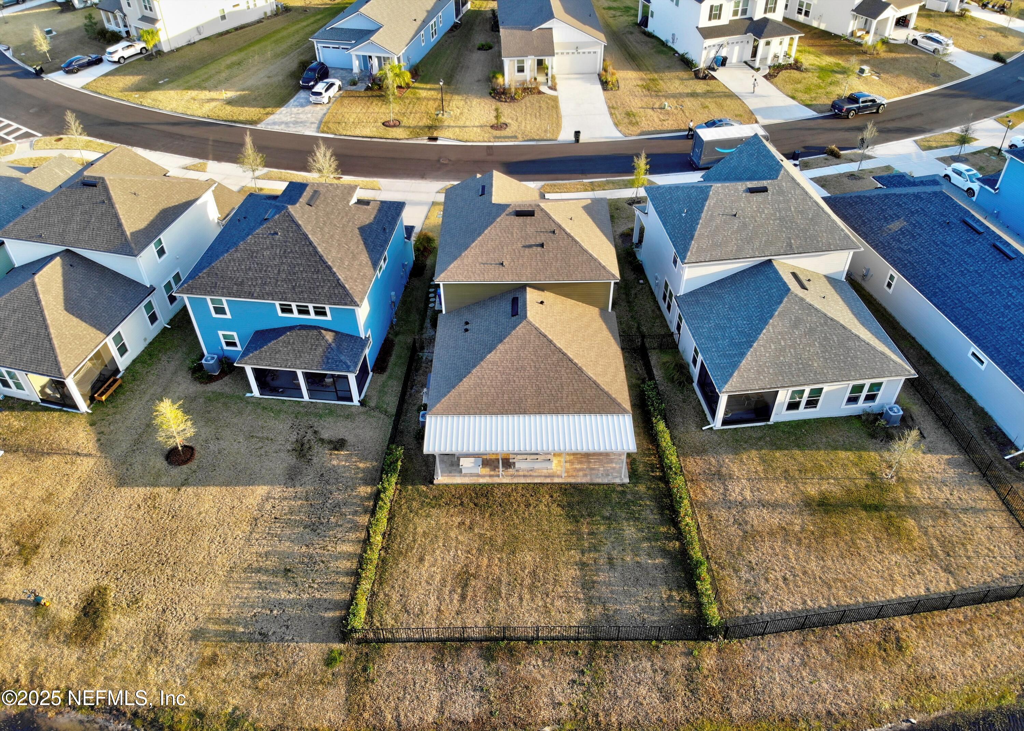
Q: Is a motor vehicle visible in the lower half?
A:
No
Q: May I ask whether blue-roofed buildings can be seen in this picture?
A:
Yes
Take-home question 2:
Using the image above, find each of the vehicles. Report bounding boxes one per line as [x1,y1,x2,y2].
[101,40,146,64]
[682,119,767,168]
[942,158,984,193]
[56,53,101,73]
[912,30,958,54]
[1003,132,1024,149]
[309,80,340,103]
[830,89,892,119]
[301,57,325,83]
[985,0,1013,12]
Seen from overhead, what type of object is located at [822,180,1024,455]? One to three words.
house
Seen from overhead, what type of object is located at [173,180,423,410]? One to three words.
house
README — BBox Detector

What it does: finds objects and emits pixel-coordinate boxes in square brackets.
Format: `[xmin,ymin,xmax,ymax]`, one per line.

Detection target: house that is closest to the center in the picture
[426,171,632,418]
